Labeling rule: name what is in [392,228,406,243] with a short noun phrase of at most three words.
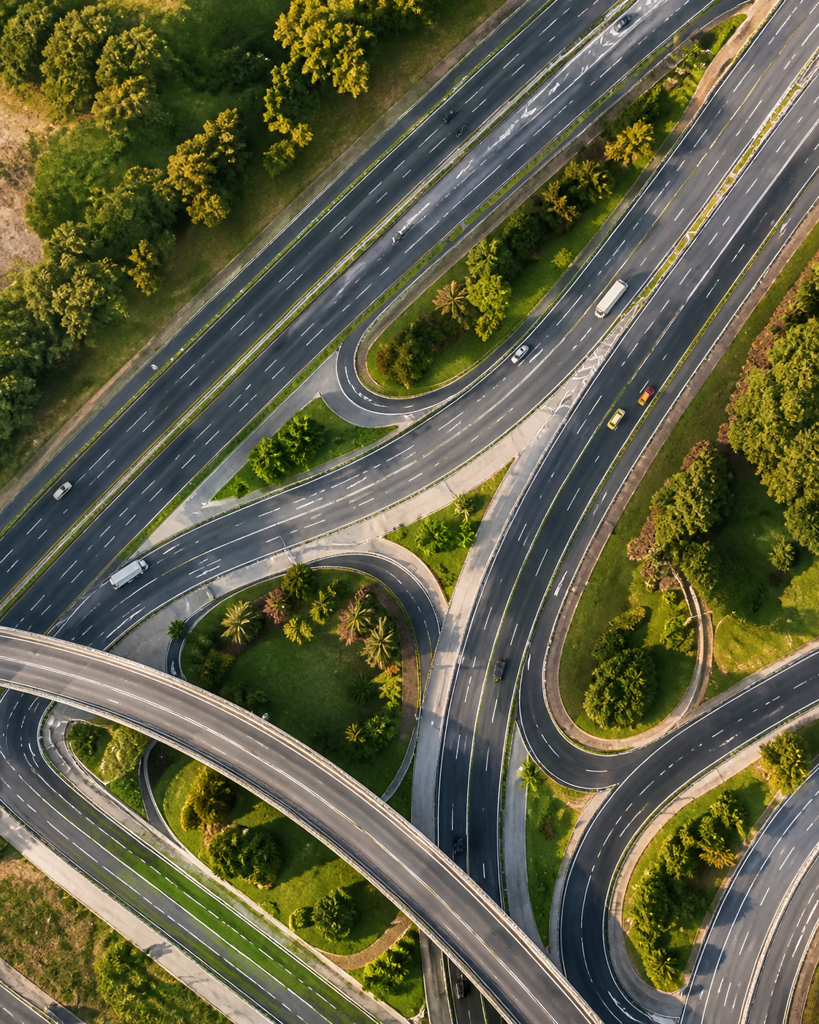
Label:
car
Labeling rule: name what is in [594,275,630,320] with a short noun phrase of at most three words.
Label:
truck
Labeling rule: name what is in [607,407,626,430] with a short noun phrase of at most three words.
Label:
car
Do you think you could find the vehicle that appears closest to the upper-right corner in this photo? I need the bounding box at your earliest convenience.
[611,12,633,33]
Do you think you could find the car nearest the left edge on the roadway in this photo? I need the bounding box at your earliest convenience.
[51,481,72,501]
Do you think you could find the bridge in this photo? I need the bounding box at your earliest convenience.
[0,627,605,1024]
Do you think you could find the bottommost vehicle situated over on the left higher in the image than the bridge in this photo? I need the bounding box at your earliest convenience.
[107,559,149,589]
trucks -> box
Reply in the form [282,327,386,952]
[594,275,630,320]
[107,559,149,589]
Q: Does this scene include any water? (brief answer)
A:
No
